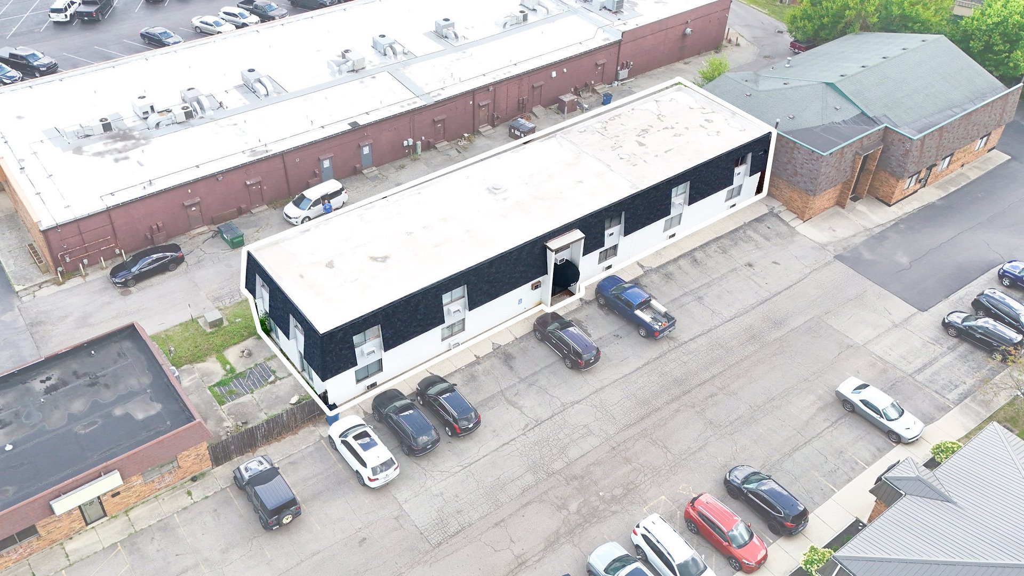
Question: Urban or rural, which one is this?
urban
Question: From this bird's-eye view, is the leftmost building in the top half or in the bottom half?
bottom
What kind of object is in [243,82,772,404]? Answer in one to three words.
building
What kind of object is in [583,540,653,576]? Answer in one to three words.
car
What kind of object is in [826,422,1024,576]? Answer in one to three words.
building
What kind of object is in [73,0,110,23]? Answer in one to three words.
truck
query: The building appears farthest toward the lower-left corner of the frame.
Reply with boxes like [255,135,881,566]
[0,323,215,568]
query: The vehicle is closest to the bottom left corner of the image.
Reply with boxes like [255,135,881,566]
[231,454,305,539]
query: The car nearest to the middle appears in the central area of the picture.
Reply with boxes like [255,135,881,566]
[533,311,604,374]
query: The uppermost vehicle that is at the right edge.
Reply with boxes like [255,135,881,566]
[996,261,1024,291]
